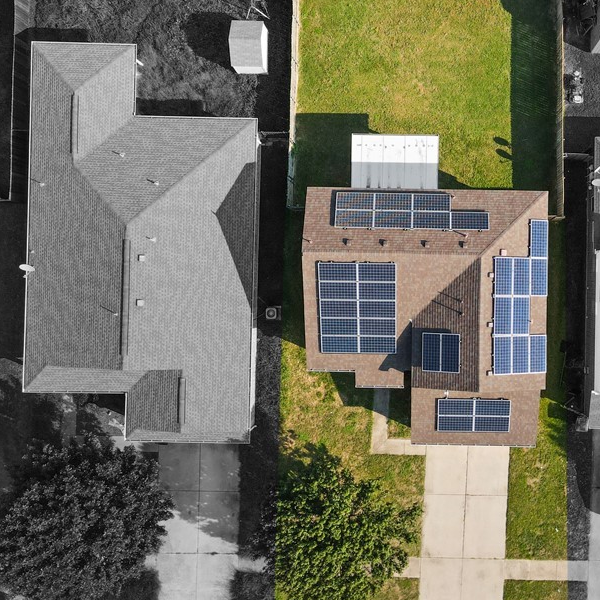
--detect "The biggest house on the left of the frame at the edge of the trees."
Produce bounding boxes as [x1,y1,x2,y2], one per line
[22,40,263,443]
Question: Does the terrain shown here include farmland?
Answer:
No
